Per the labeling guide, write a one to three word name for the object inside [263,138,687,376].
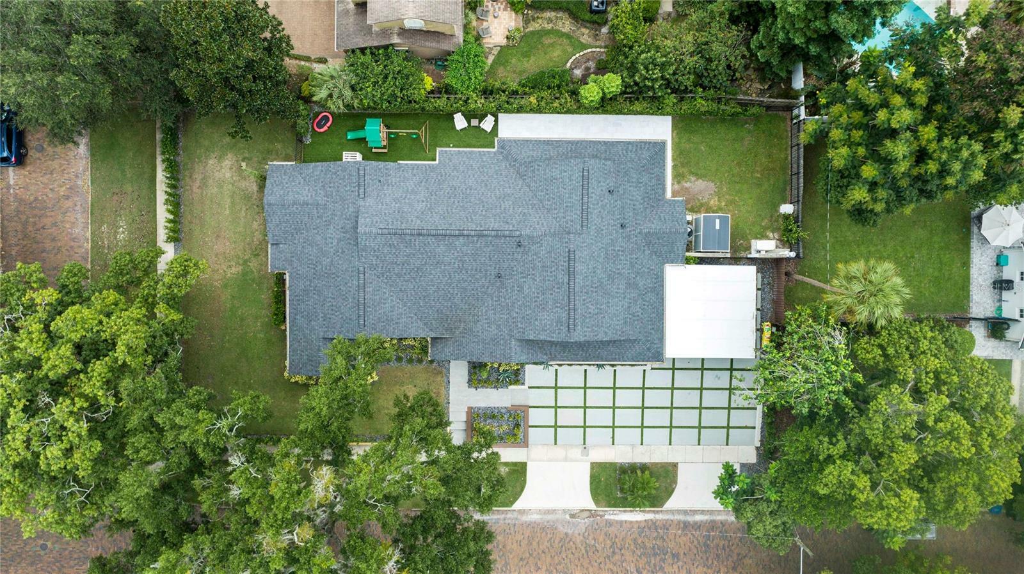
house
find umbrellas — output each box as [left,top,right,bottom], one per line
[973,204,1023,249]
